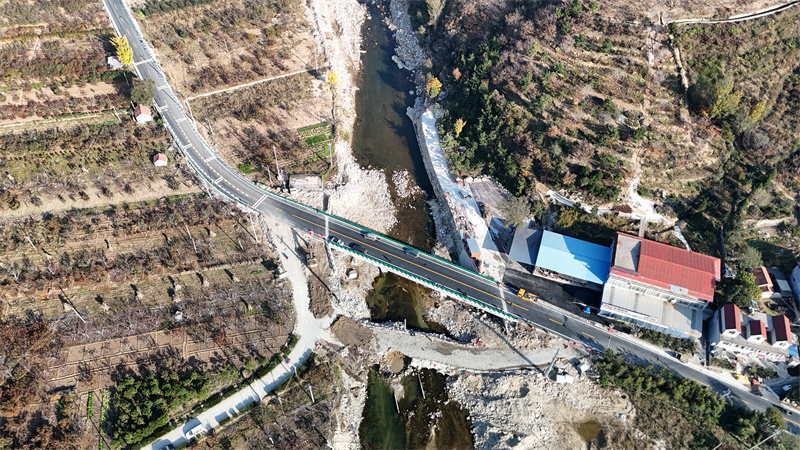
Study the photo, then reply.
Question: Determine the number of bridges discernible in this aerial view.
one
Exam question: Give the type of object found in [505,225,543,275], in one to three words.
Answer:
shed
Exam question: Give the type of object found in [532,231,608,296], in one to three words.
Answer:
shed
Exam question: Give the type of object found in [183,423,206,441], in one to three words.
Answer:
vehicle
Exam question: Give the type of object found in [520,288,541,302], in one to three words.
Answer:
vehicle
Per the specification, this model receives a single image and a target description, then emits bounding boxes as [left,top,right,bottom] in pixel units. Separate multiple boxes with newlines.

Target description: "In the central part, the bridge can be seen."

[313,215,513,316]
